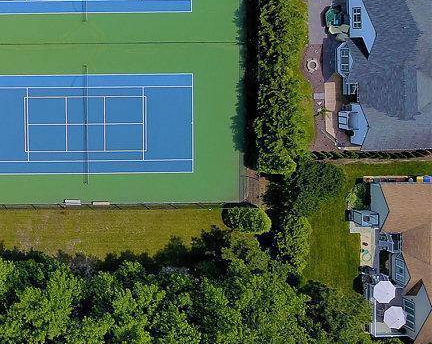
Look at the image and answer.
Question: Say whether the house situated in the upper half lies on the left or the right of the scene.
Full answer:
The house situated in the upper half sits on the right side.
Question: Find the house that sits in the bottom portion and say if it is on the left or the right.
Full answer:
You can find the house that sits in the bottom portion on the right side of the picture.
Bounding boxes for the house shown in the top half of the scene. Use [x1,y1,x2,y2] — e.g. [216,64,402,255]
[336,0,432,153]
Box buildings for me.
[354,182,432,342]
[336,0,432,153]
